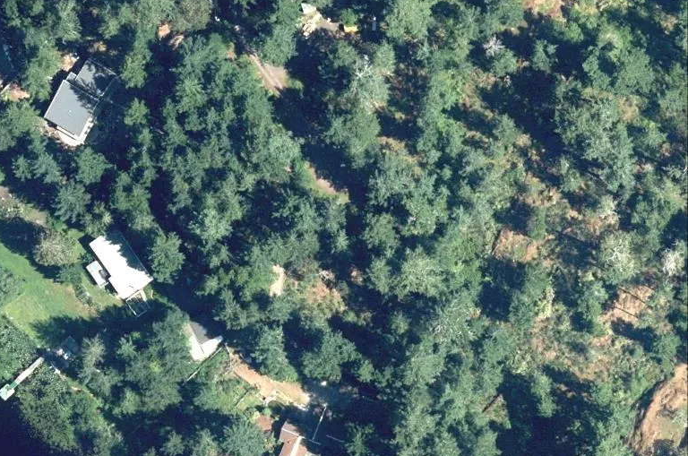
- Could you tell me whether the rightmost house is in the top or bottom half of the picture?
bottom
